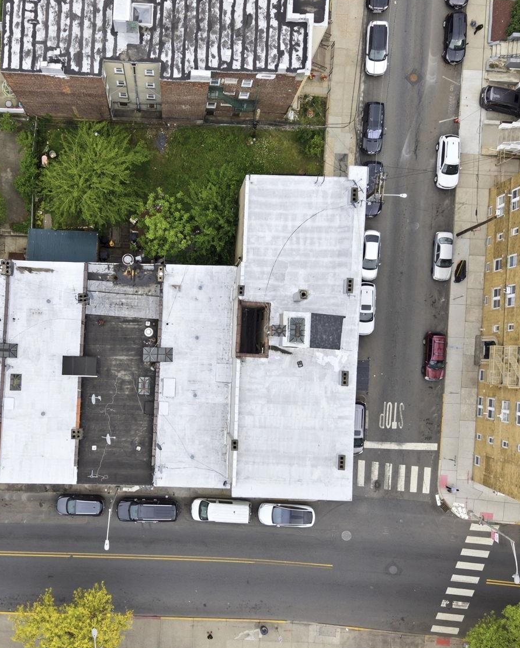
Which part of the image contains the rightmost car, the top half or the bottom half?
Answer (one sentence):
It is in the top half that the rightmost car appears.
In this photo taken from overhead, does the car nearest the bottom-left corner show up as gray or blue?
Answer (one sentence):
The car nearest the bottom-left corner is gray.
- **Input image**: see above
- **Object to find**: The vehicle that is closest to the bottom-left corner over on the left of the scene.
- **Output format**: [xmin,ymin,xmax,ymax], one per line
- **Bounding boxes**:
[56,492,105,518]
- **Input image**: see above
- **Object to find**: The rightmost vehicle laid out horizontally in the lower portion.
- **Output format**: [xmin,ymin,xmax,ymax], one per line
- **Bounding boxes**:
[258,501,317,529]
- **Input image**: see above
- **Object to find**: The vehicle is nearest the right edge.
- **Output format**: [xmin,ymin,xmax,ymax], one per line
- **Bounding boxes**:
[478,85,520,117]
